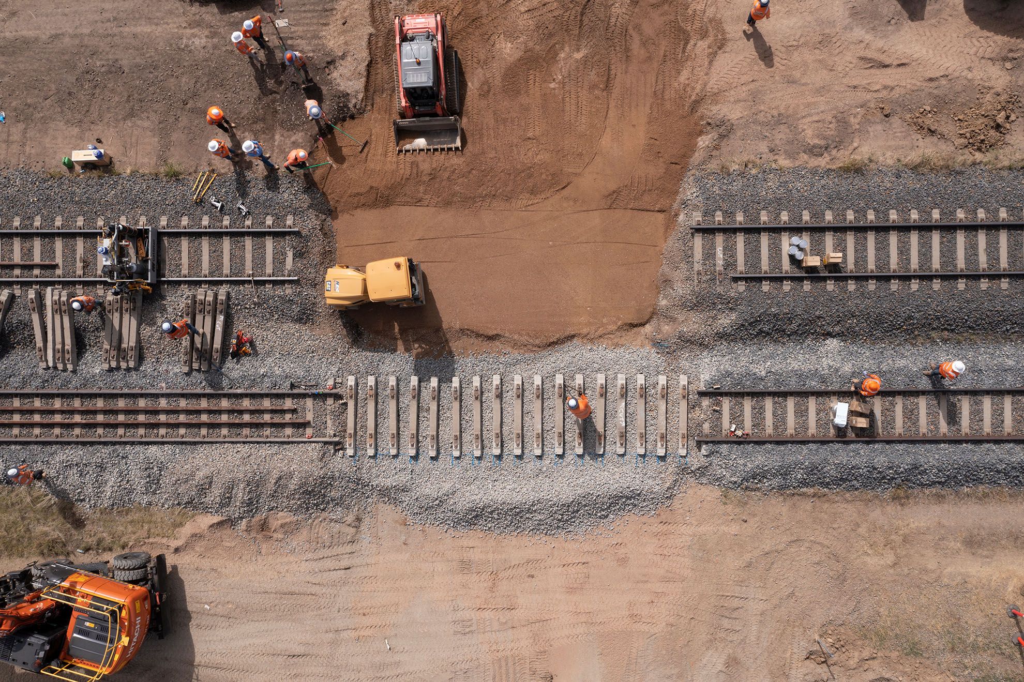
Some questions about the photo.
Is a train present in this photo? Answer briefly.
No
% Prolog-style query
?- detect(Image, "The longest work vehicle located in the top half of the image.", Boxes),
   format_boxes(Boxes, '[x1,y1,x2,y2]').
[389,13,464,159]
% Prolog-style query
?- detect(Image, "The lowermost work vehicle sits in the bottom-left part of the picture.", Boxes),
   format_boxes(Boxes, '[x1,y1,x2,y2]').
[0,551,172,682]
